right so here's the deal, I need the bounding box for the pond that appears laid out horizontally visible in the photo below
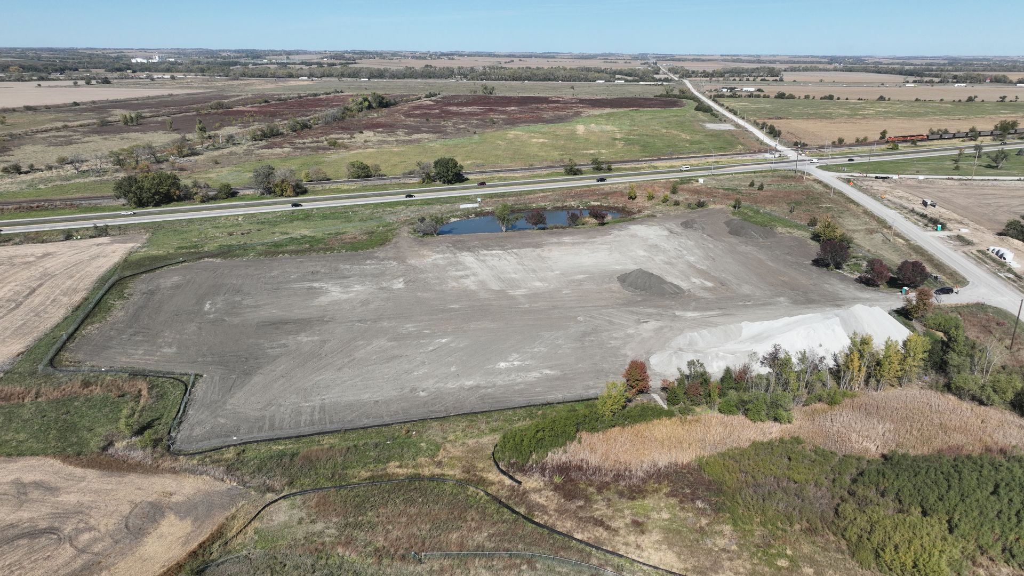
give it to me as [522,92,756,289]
[439,210,620,236]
